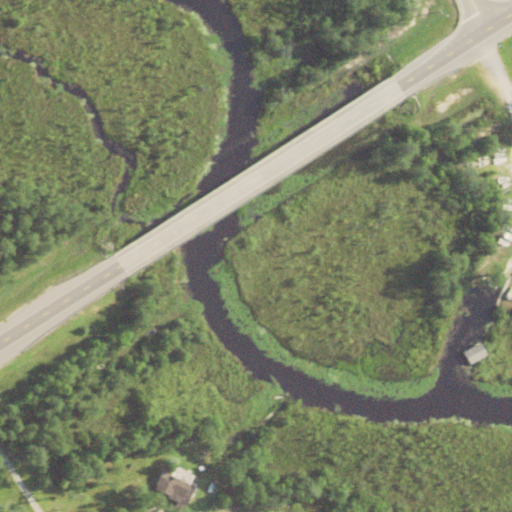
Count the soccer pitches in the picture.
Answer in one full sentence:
There are no soccer pitches in the image.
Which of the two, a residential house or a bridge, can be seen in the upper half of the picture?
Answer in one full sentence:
Visible in the upper half of the picture is a bridge.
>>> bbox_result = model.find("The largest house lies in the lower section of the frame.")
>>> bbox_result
[155,466,192,504]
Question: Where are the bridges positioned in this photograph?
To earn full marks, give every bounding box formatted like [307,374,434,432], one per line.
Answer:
[114,72,408,276]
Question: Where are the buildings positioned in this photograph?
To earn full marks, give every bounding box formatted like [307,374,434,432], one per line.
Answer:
[155,466,192,504]
[465,343,488,364]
